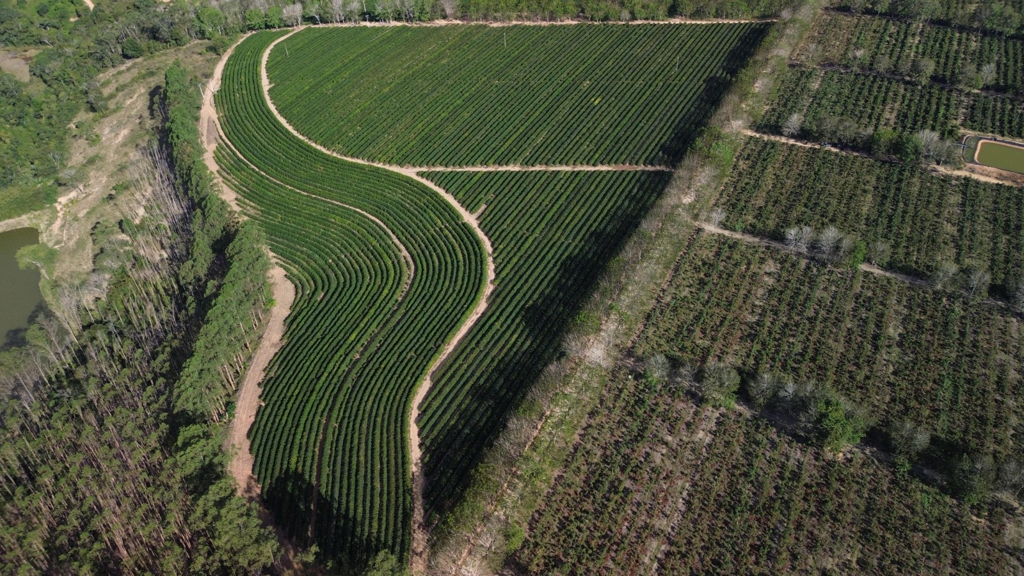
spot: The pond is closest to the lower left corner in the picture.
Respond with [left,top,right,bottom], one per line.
[0,232,58,357]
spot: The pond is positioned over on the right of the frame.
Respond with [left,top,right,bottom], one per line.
[959,133,1024,183]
